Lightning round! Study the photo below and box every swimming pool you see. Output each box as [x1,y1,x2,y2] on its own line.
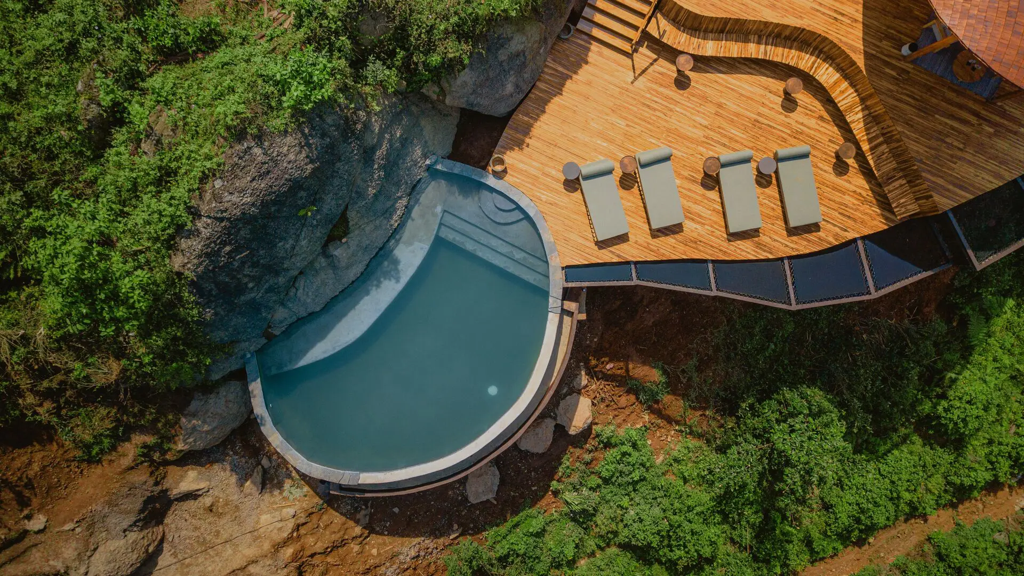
[245,155,582,500]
